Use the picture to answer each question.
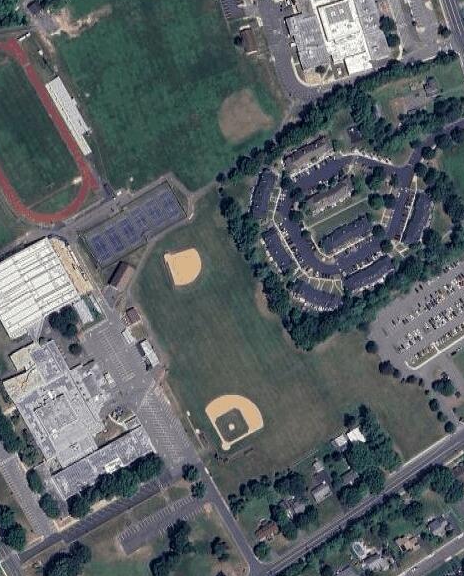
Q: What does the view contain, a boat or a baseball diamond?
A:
baseball diamond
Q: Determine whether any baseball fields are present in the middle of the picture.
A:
Yes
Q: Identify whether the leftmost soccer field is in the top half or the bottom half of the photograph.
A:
top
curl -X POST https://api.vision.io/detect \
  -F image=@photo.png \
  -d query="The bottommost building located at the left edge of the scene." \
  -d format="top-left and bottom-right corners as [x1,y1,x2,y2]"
[4,341,155,499]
